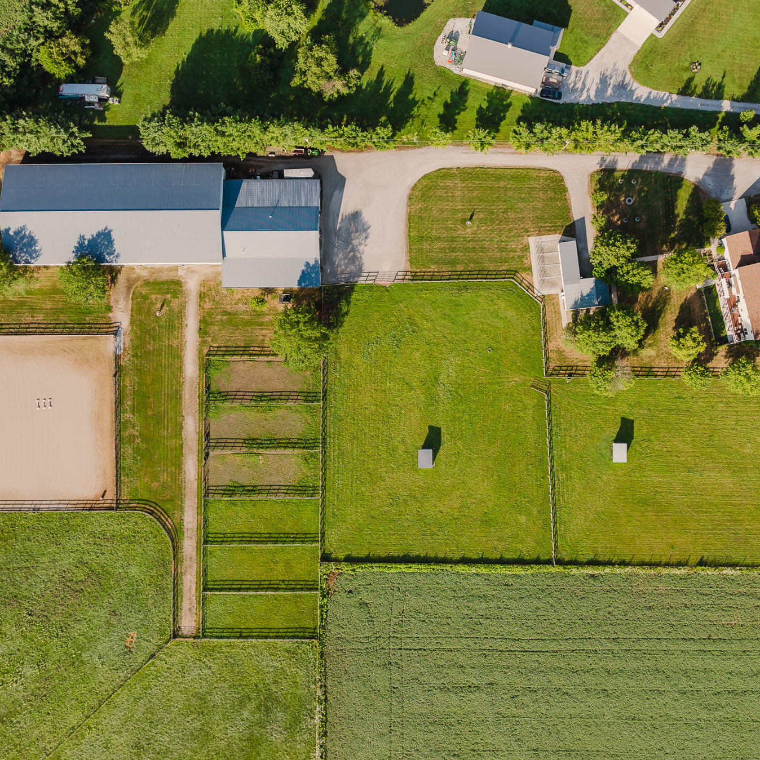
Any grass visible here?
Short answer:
Yes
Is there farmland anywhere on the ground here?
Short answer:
Yes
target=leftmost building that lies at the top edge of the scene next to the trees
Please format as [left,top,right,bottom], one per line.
[461,11,565,96]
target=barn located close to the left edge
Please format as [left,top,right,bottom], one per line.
[0,162,227,266]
